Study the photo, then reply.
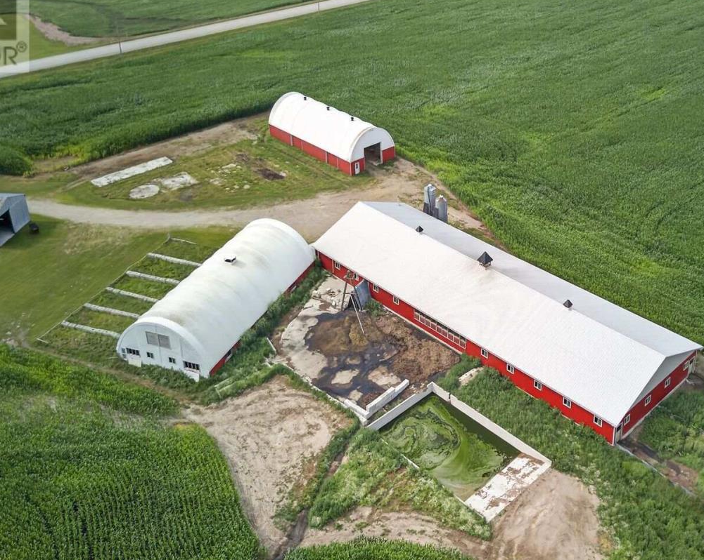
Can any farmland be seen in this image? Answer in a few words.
Yes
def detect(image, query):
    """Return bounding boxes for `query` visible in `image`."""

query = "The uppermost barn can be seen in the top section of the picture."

[268,91,395,175]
